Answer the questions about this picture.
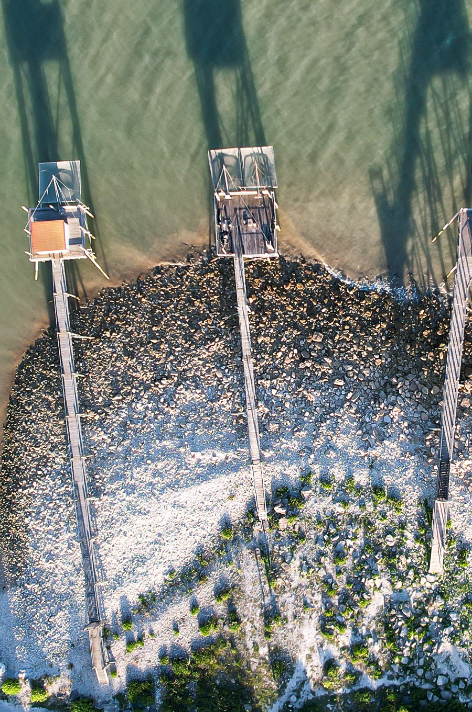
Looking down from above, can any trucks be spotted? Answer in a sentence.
No, no truck is visible in the scene.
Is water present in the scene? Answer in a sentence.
Yes, some water is visible.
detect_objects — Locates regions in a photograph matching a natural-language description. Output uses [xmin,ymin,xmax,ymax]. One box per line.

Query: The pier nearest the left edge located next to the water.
[18,202,115,686]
